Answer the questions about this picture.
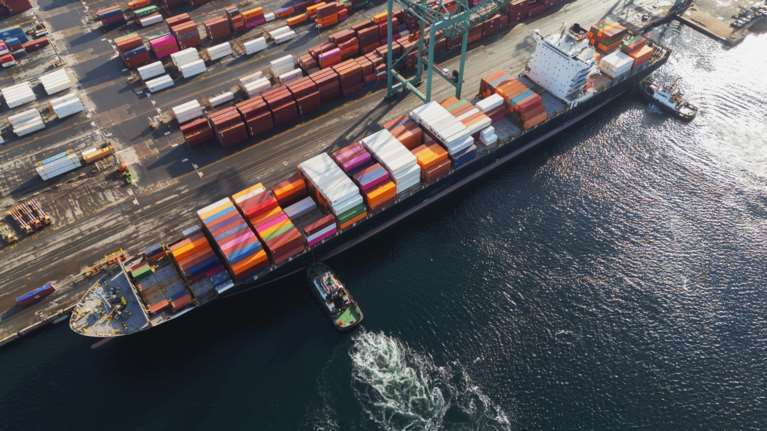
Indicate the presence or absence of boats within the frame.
Yes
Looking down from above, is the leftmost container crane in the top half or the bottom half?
top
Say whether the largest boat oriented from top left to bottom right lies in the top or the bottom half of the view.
bottom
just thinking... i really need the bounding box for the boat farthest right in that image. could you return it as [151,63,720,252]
[640,78,700,118]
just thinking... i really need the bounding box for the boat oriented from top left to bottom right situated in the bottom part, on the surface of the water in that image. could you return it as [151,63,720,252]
[303,260,359,334]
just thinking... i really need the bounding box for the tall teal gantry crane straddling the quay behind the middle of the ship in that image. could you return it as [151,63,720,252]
[382,0,497,107]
